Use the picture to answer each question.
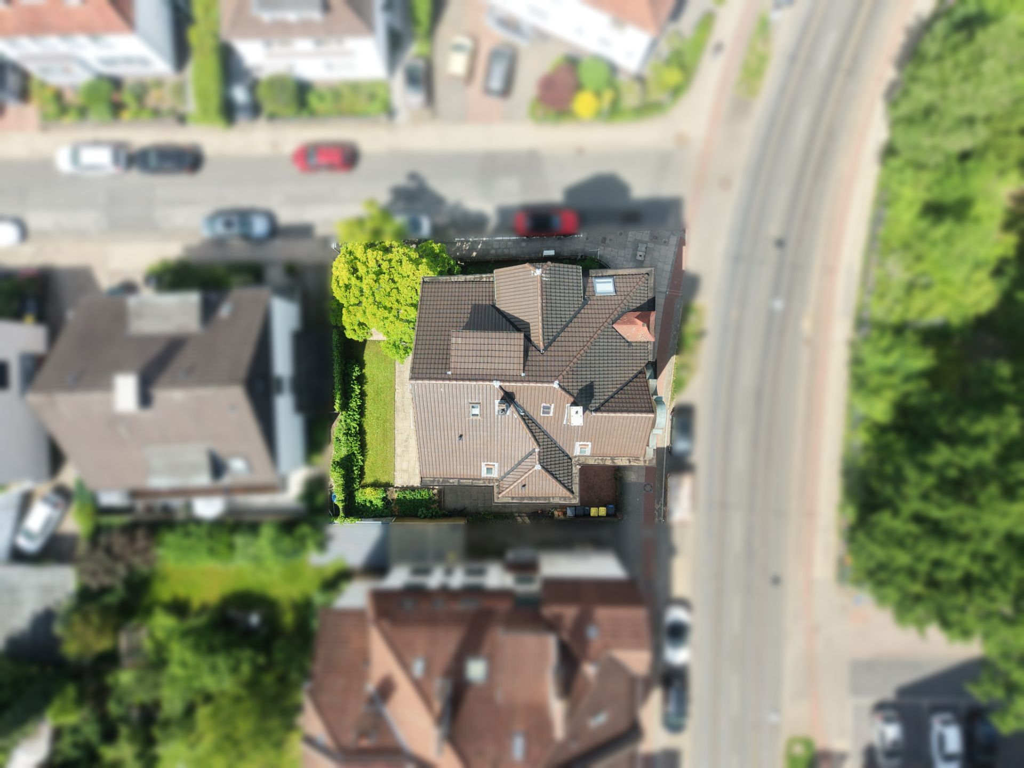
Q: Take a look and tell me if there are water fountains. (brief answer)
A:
No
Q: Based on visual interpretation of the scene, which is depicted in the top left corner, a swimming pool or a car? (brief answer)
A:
car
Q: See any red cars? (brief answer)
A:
Yes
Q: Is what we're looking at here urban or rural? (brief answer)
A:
urban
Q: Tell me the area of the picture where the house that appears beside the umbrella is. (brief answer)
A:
left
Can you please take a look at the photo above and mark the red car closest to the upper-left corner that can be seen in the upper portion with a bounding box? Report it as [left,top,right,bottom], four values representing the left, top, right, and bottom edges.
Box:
[294,142,360,175]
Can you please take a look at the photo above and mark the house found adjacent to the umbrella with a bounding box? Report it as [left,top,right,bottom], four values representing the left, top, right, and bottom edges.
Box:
[32,287,311,506]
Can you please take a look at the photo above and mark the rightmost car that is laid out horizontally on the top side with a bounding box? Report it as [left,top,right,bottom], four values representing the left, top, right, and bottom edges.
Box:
[514,207,580,238]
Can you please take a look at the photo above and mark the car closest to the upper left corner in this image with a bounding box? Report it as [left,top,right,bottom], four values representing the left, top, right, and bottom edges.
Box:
[0,60,26,117]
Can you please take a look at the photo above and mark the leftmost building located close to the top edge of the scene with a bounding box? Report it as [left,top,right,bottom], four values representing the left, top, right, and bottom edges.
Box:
[0,0,171,84]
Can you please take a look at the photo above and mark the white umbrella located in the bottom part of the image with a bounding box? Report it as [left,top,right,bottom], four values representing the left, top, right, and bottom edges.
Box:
[192,496,226,523]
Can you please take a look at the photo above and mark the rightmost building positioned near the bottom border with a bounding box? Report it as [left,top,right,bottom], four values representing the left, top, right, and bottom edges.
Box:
[299,536,653,768]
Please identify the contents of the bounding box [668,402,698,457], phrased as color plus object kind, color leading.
gray car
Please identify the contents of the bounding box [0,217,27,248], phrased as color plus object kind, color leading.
white car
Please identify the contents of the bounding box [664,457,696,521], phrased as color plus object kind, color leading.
white trailer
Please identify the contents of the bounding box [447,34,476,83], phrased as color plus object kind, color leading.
white car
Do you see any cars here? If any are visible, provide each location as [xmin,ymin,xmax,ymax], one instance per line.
[137,143,205,176]
[926,706,964,768]
[379,212,438,241]
[205,209,275,240]
[227,65,258,127]
[0,60,26,117]
[486,42,516,102]
[660,666,691,732]
[60,143,130,175]
[663,599,694,666]
[668,402,698,457]
[514,207,580,238]
[0,217,27,248]
[447,34,476,83]
[869,705,903,768]
[28,489,70,557]
[294,142,360,175]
